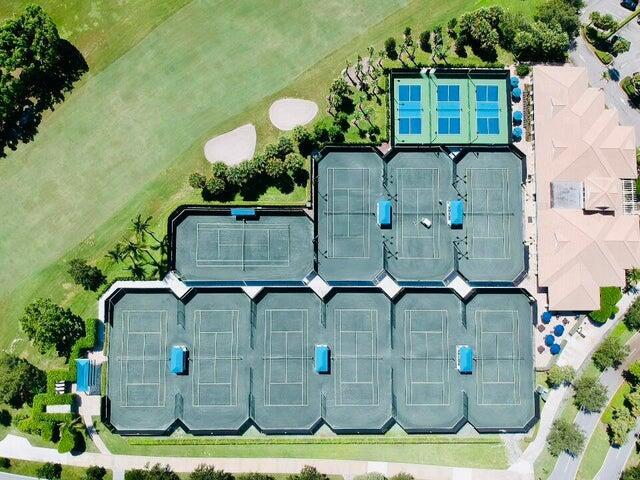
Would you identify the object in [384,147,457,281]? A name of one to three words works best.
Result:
tennis court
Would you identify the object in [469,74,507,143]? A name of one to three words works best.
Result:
sports court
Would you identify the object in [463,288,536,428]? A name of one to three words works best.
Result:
tennis court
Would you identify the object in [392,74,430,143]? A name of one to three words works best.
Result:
sports court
